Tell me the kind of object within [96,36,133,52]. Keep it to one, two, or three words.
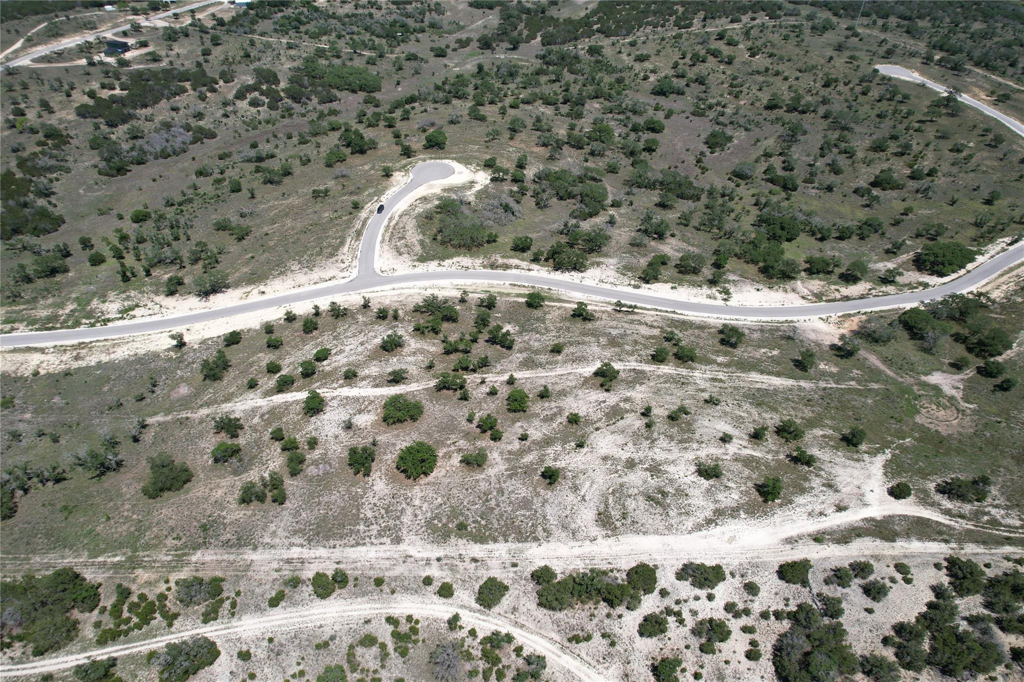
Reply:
house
